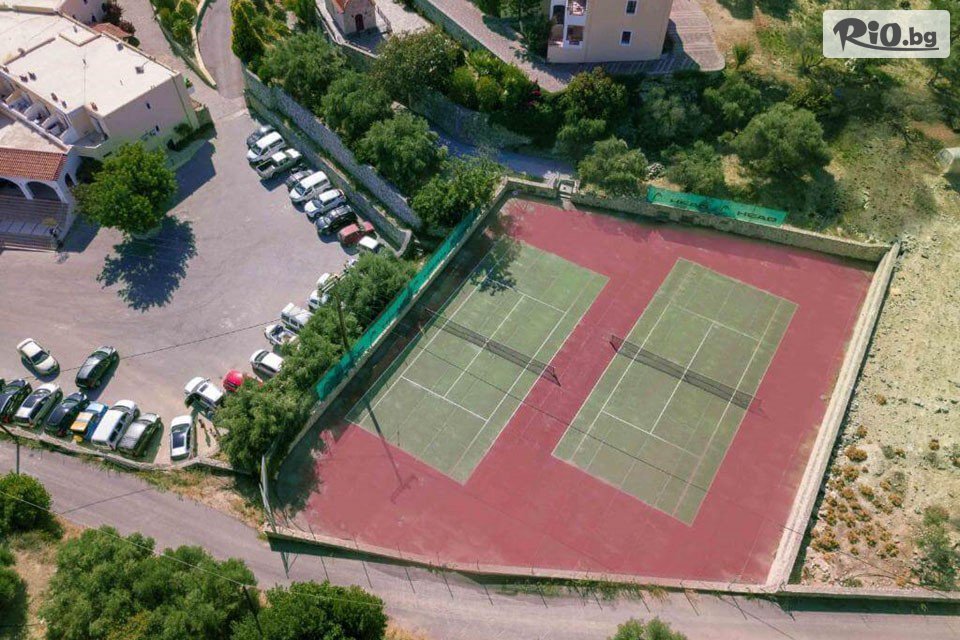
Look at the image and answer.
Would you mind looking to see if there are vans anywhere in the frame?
Yes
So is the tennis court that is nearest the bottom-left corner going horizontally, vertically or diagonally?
diagonally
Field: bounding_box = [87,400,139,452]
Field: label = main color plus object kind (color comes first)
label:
white van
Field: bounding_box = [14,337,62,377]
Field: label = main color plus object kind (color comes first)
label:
white car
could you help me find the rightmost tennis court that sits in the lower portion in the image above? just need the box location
[553,258,798,525]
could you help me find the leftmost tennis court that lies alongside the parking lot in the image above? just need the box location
[346,234,608,484]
